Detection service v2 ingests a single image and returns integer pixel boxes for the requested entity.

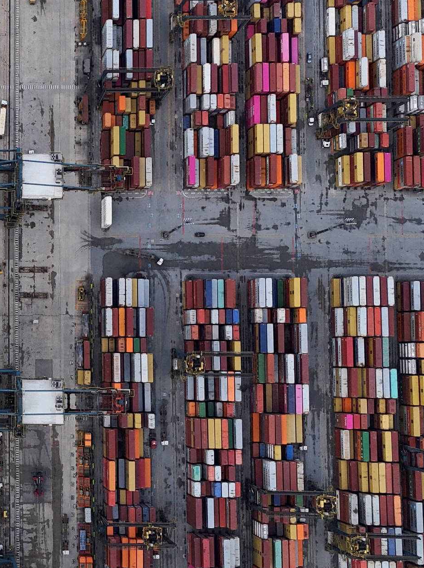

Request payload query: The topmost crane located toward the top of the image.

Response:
[166,0,252,44]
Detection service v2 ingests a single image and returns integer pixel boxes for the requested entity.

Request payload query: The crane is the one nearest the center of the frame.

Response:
[167,346,255,381]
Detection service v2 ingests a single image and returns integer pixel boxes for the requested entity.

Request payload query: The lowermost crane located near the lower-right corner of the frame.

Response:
[320,518,420,562]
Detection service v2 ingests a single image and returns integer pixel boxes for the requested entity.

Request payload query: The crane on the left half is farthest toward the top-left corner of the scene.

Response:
[91,67,173,113]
